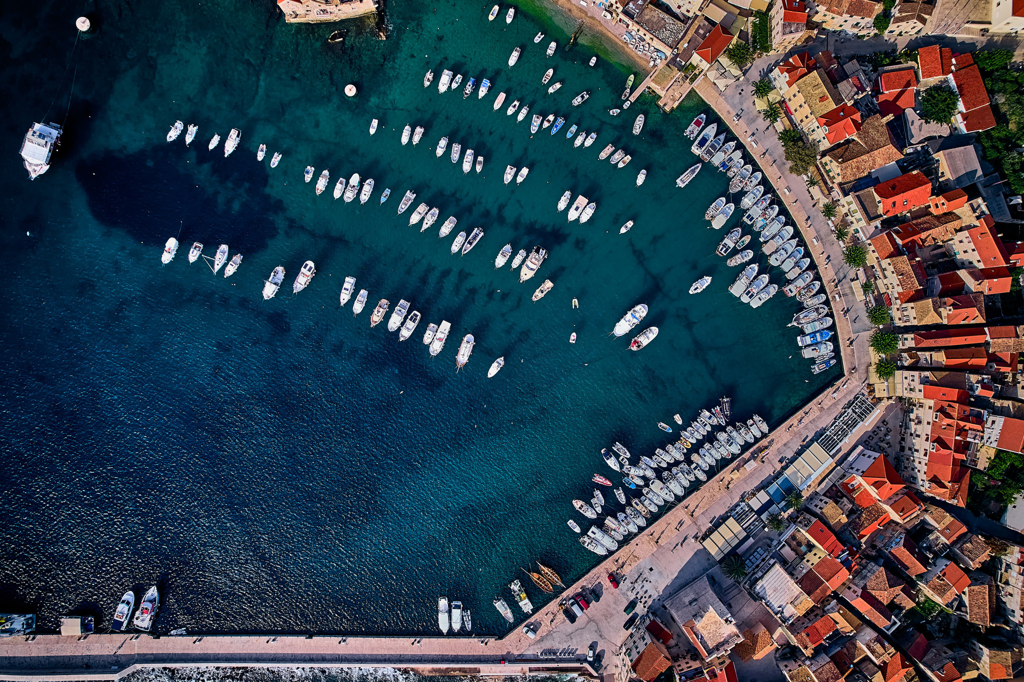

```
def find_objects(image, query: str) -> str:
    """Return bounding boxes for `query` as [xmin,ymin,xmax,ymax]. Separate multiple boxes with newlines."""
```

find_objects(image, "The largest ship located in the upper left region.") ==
[17,122,67,178]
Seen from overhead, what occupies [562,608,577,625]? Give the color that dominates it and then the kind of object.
black car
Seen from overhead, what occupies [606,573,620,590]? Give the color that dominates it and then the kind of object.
red car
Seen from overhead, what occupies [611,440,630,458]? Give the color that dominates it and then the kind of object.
gray boat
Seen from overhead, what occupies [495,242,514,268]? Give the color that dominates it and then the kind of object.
white boat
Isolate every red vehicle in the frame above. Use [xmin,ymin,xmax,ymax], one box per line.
[575,594,591,612]
[606,573,620,590]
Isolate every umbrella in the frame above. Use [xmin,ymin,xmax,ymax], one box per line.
[714,55,731,72]
[765,88,783,105]
[705,62,724,82]
[726,64,744,81]
[752,97,767,114]
[715,71,734,90]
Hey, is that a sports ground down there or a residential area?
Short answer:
residential area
